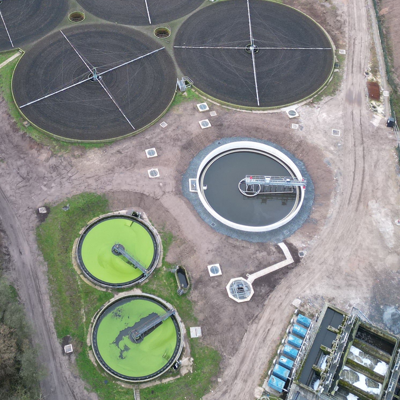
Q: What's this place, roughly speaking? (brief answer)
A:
industrial area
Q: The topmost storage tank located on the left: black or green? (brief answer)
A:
green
